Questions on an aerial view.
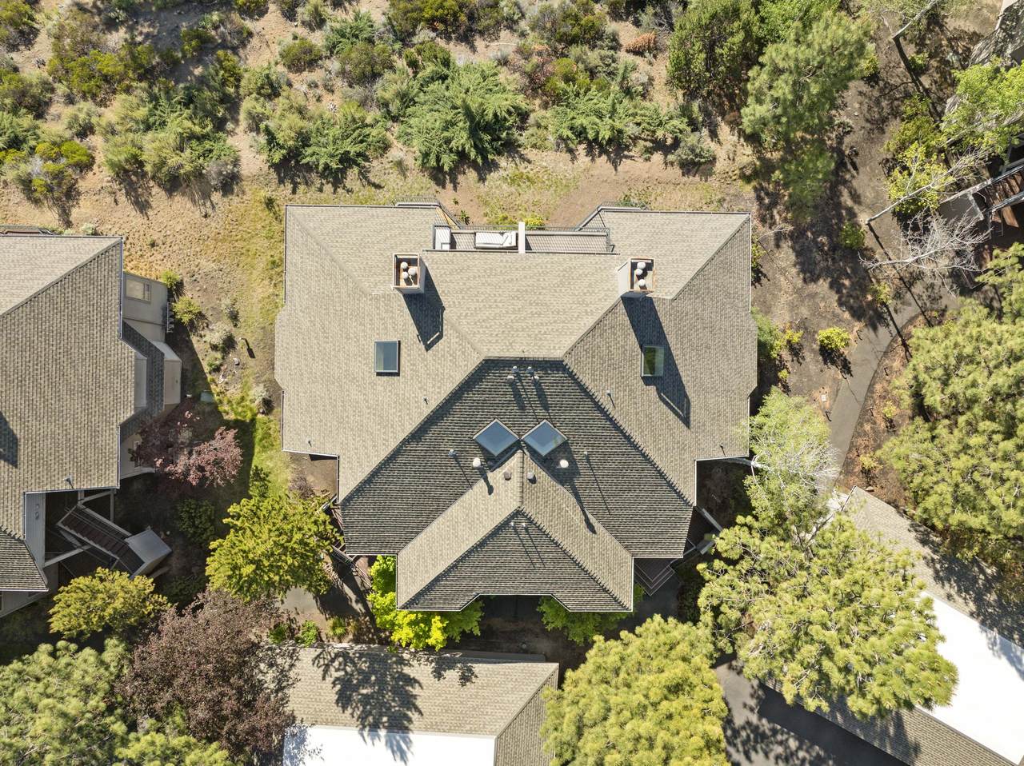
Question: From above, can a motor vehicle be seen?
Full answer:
No, there's no motor vehicle here.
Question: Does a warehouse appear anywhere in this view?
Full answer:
No, I find no warehouse anywhere in the image.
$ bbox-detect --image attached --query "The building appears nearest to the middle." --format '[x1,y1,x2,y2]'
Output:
[273,201,759,614]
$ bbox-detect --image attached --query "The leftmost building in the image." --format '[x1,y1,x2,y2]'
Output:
[0,229,184,622]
